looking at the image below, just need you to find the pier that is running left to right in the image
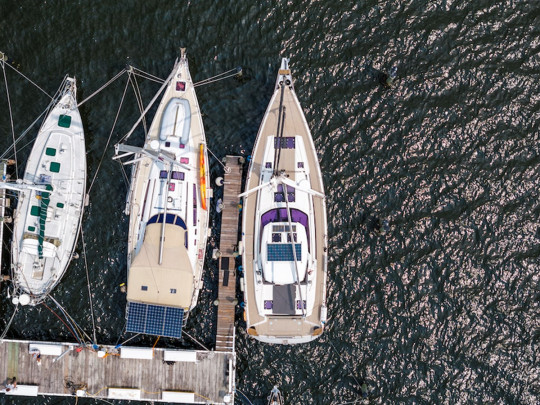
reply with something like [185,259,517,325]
[0,338,237,405]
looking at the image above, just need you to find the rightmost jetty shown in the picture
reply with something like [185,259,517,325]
[214,156,247,352]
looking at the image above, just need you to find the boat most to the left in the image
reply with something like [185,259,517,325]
[0,75,89,305]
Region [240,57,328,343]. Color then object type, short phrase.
white boat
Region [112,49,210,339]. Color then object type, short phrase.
white boat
